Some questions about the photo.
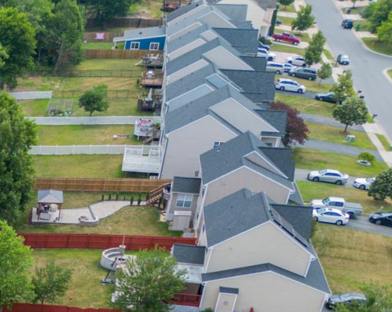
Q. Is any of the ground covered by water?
No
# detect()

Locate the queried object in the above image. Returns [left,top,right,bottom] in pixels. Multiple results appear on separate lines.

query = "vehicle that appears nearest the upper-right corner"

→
[341,16,356,29]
